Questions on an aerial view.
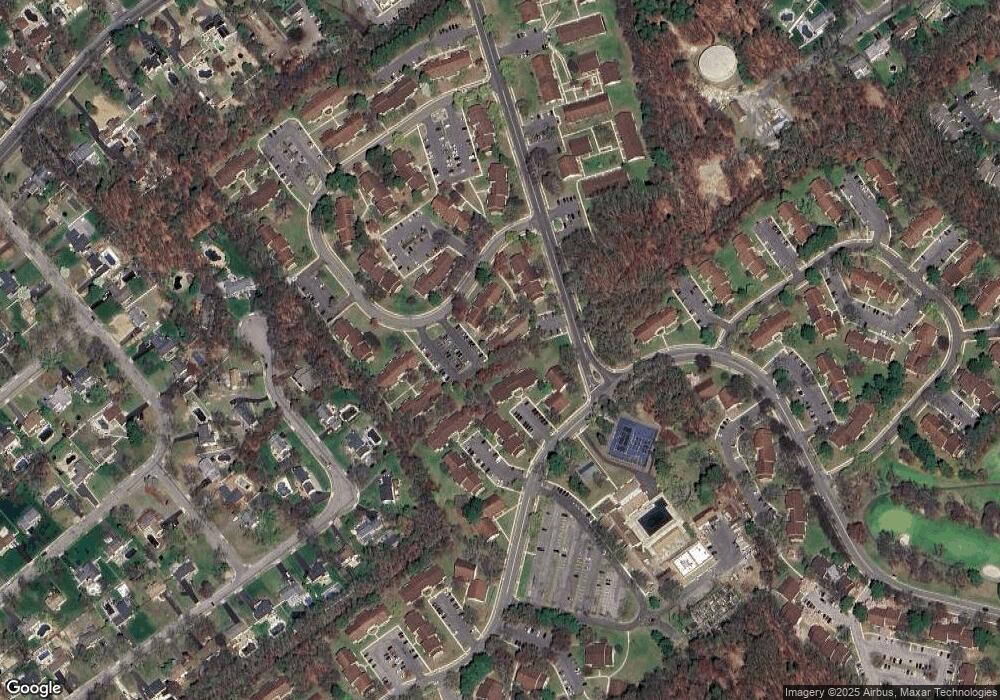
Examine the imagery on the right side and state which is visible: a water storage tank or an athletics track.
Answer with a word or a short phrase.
water storage tank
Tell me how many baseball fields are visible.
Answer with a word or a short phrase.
0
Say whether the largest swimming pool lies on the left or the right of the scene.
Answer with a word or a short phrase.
right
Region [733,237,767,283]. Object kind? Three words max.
building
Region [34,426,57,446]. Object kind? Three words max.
swimming pool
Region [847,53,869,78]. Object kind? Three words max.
house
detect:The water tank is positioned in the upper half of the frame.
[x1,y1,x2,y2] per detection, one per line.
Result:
[698,47,735,84]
